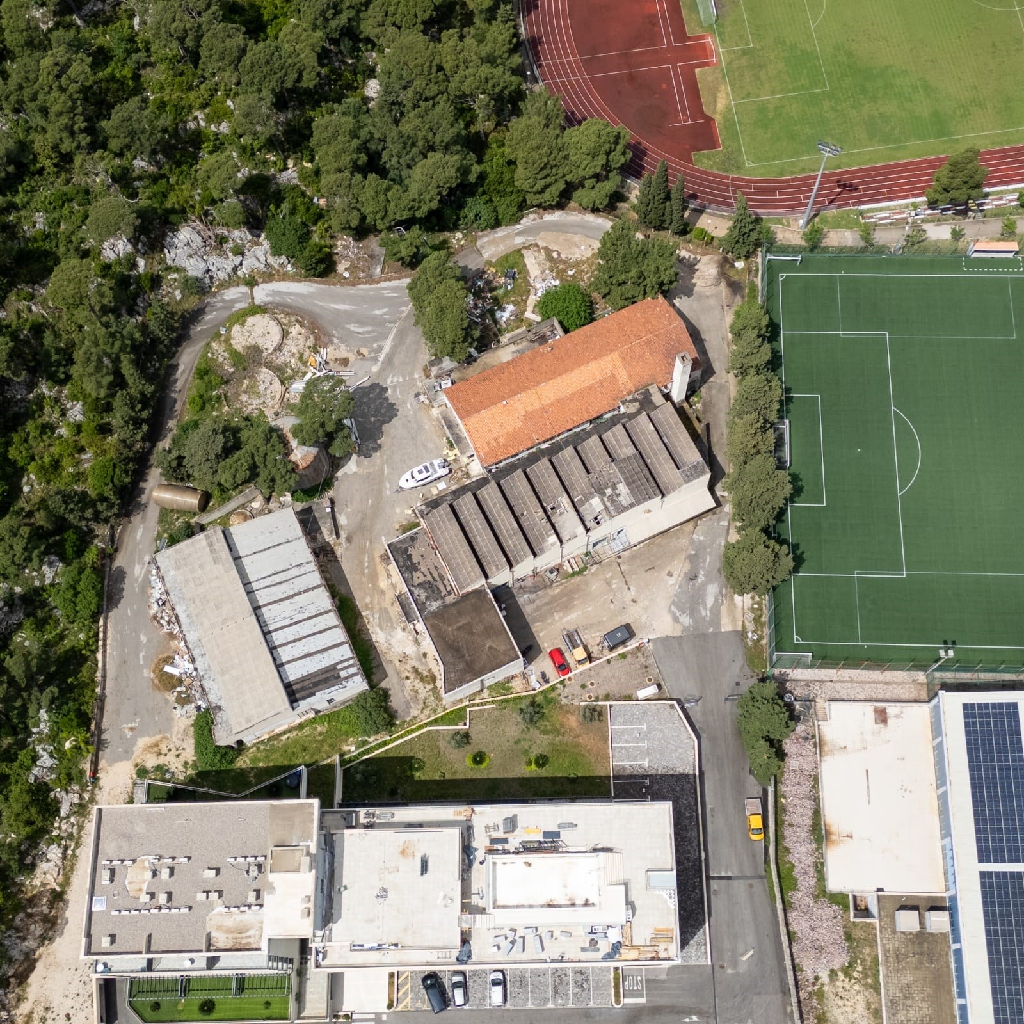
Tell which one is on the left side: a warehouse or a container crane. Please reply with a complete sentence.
You can see a warehouse on the left side.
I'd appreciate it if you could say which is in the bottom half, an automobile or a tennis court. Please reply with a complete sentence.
Looking in the bottom half, you will find an automobile.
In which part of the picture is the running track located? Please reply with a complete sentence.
You can find the running track in the top right area of the picture.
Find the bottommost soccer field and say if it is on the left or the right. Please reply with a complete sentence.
It is on the right.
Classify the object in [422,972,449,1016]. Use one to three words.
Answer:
vehicle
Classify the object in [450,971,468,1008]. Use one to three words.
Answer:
car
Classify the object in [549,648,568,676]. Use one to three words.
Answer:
car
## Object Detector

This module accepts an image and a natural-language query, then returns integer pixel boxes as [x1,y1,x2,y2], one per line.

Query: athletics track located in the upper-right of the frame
[525,0,1024,216]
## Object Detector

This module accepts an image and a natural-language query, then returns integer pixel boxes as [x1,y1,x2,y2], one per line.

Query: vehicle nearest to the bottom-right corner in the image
[747,798,764,840]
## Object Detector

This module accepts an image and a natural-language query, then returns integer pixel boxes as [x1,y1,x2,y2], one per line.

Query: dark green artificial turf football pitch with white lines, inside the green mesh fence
[752,251,1024,676]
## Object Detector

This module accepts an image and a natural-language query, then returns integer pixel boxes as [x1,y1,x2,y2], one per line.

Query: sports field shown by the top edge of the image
[680,0,1024,178]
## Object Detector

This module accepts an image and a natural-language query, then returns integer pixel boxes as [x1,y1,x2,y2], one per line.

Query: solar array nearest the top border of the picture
[963,702,1024,863]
